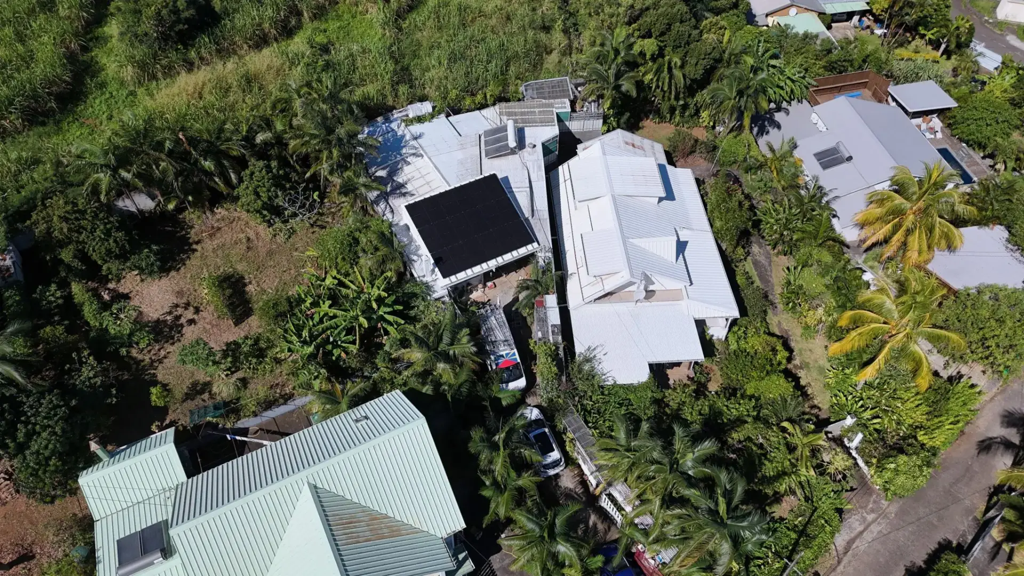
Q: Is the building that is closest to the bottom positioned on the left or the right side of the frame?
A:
left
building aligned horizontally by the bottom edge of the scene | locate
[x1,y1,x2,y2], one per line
[79,390,479,576]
